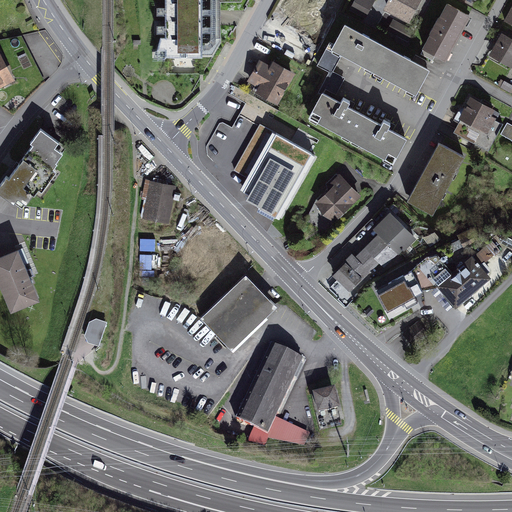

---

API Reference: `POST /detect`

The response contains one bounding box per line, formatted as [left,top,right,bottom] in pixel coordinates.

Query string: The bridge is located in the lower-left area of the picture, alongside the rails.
[20,364,76,492]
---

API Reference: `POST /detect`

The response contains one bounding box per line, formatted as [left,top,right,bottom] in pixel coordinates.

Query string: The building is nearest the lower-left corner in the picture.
[84,319,107,346]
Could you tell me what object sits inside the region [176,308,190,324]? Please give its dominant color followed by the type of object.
white vehicle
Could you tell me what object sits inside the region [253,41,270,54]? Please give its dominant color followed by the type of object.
white vehicle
